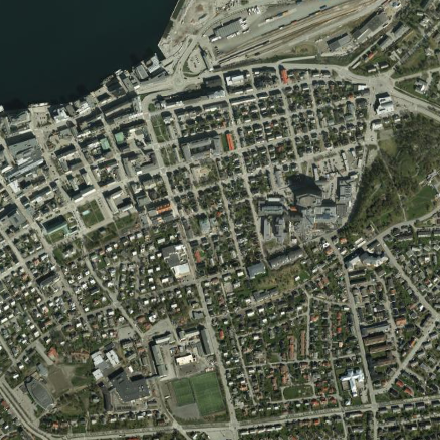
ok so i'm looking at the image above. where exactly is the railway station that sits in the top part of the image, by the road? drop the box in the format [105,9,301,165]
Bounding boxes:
[208,0,385,70]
